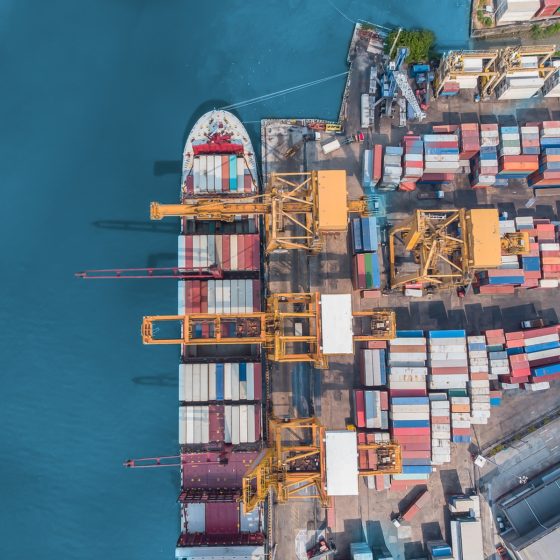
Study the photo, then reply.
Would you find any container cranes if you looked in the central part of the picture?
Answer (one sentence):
Yes, a container crane is visible in the central part of the picture.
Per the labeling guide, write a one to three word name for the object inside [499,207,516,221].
vehicle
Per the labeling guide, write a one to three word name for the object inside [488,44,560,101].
container crane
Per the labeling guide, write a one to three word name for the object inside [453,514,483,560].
building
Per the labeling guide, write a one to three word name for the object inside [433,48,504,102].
container crane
